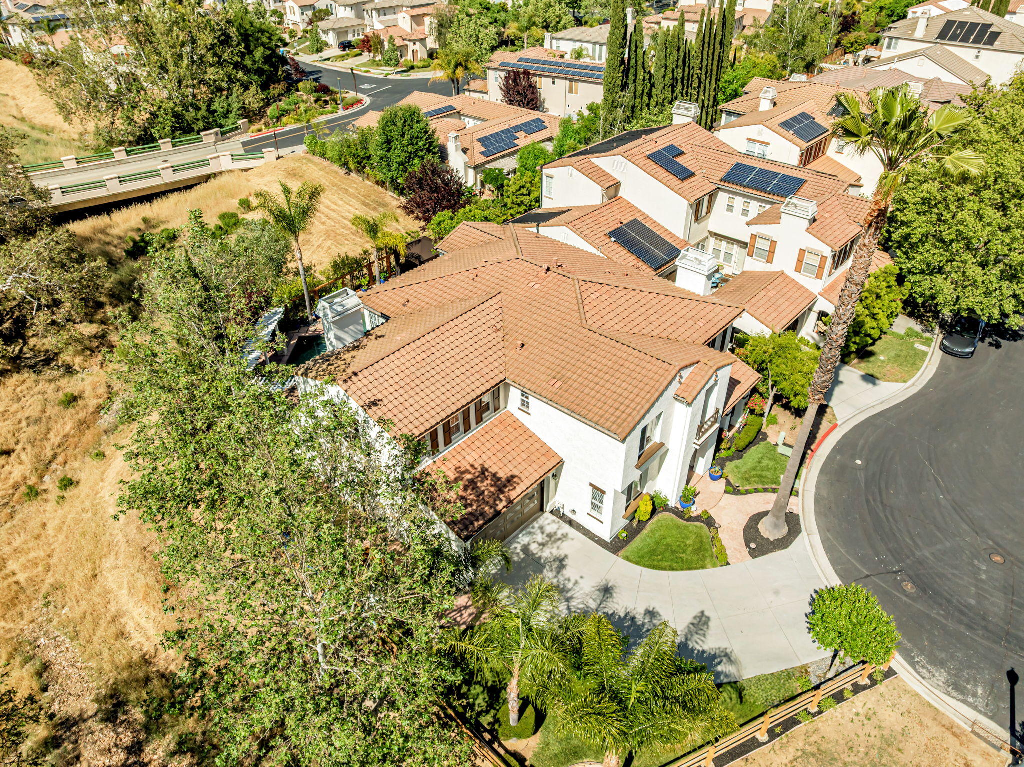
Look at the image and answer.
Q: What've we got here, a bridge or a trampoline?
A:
bridge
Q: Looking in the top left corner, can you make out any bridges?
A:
Yes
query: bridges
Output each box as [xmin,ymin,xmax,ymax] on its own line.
[15,126,274,214]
